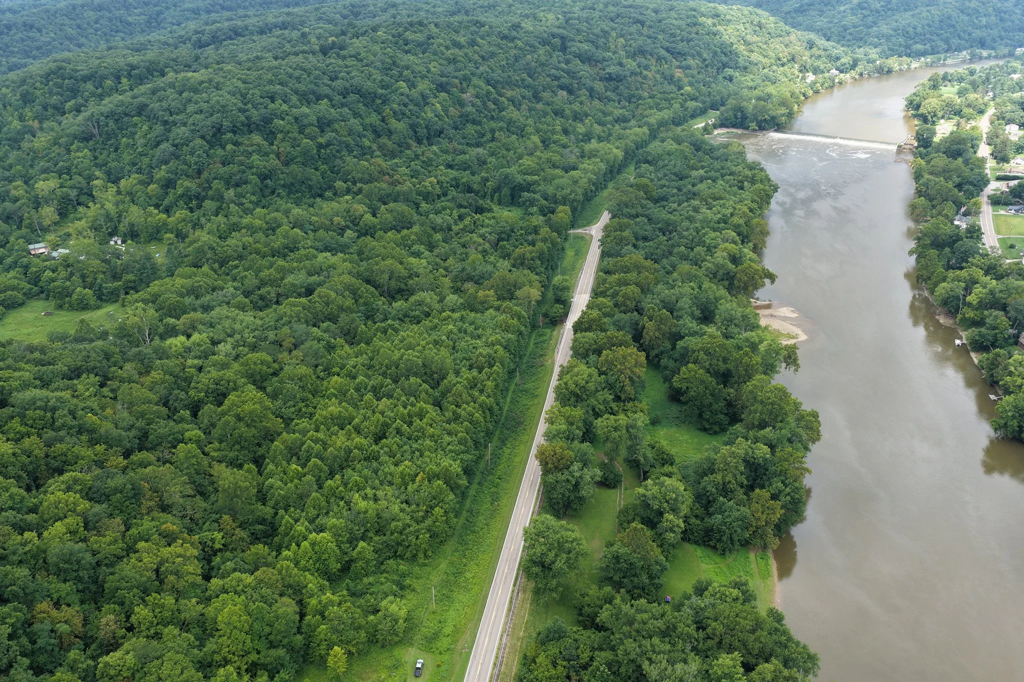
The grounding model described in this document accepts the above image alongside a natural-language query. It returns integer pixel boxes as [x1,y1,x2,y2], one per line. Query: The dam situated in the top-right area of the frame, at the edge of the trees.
[757,131,908,152]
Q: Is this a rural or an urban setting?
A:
rural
